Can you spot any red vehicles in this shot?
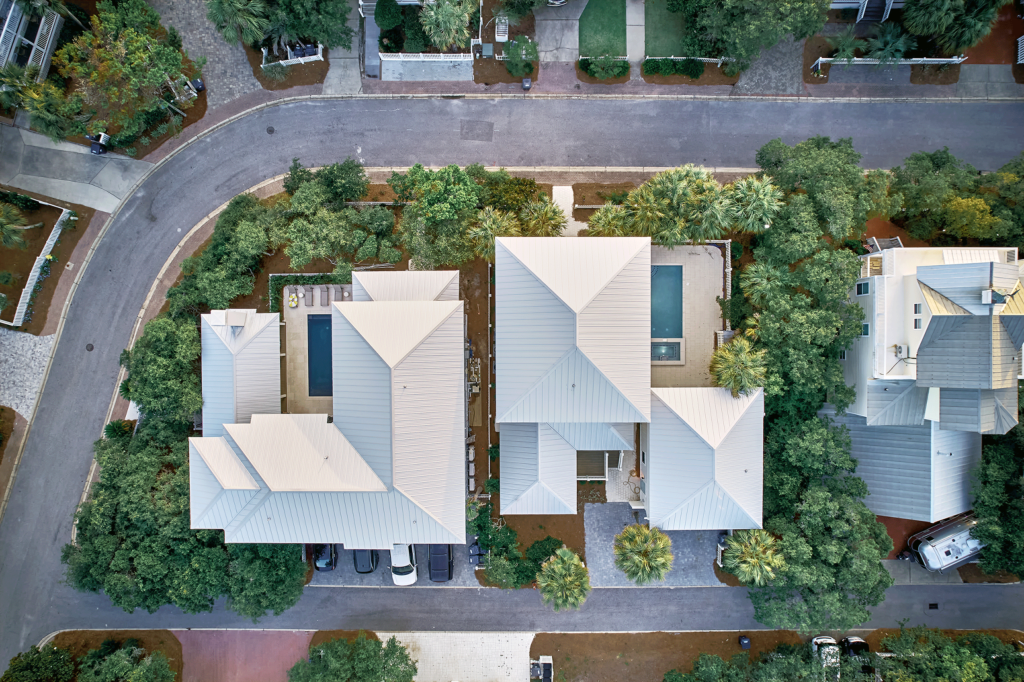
No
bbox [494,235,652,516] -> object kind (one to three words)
house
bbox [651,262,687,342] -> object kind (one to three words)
swimming pool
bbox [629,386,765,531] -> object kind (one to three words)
building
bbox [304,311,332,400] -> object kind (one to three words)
swimming pool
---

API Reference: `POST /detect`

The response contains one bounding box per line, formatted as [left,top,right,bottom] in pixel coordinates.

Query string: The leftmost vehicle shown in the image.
[310,544,337,572]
